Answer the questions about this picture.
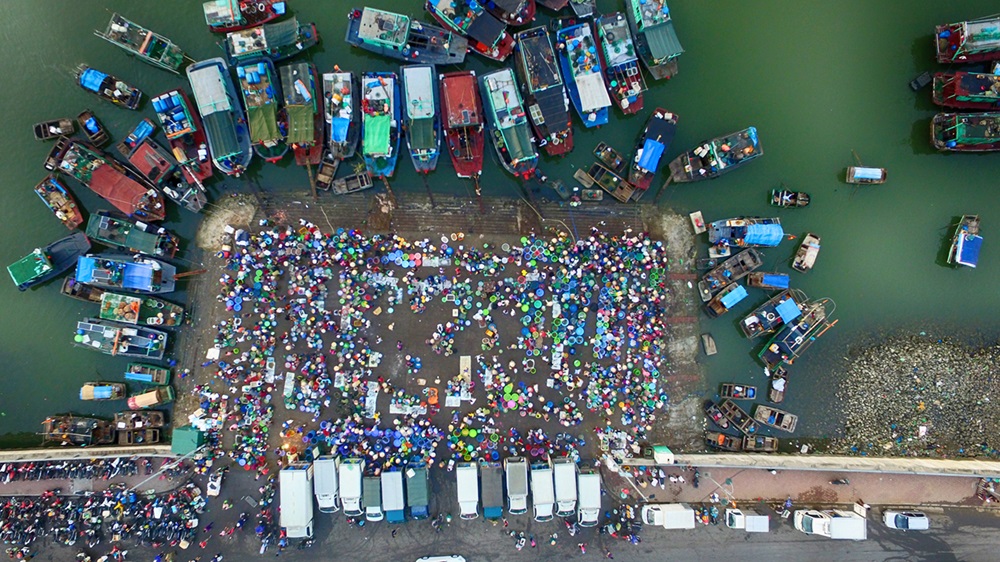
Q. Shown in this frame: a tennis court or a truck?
truck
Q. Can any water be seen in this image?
Yes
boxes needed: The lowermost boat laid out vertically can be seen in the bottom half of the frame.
[766,366,789,404]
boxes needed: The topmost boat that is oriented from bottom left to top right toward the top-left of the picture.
[120,118,160,154]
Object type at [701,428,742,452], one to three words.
boat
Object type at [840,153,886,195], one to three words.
boat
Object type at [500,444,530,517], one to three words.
truck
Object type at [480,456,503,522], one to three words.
truck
